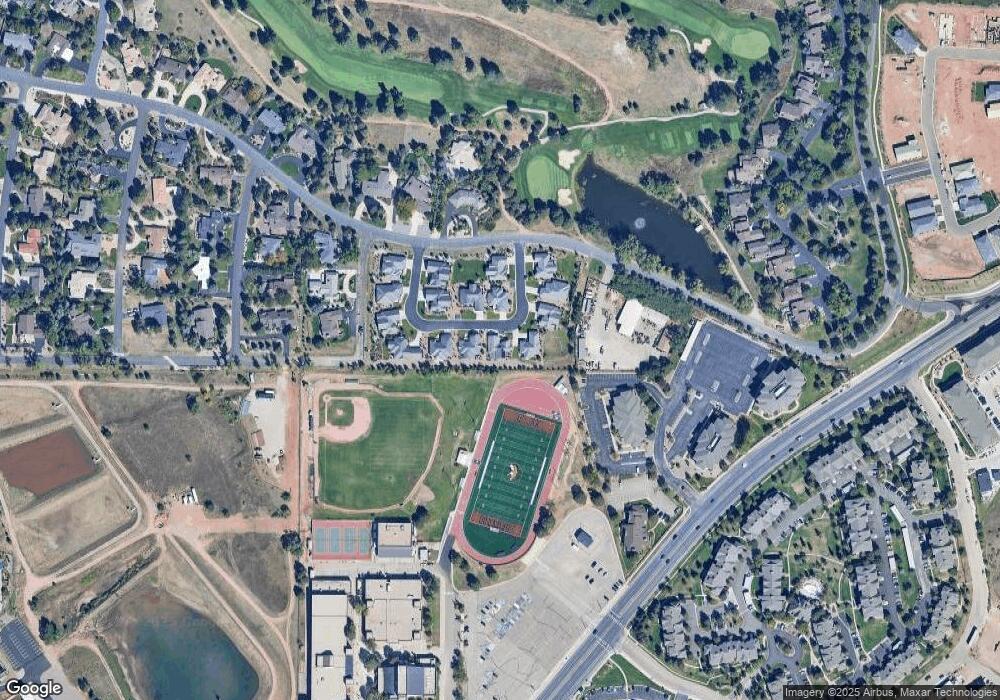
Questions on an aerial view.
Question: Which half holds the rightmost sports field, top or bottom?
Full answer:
The rightmost sports field is in the bottom half of the image.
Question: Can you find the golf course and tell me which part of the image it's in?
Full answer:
The golf course sits in the top section of the image.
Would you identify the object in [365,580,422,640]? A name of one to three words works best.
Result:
building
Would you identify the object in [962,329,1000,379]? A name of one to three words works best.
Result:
building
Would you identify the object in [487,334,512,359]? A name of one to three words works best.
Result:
house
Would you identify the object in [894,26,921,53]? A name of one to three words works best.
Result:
house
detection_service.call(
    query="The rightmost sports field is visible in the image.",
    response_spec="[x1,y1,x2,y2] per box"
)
[465,399,562,556]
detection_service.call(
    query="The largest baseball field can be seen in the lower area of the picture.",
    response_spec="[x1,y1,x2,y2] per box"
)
[312,381,444,514]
